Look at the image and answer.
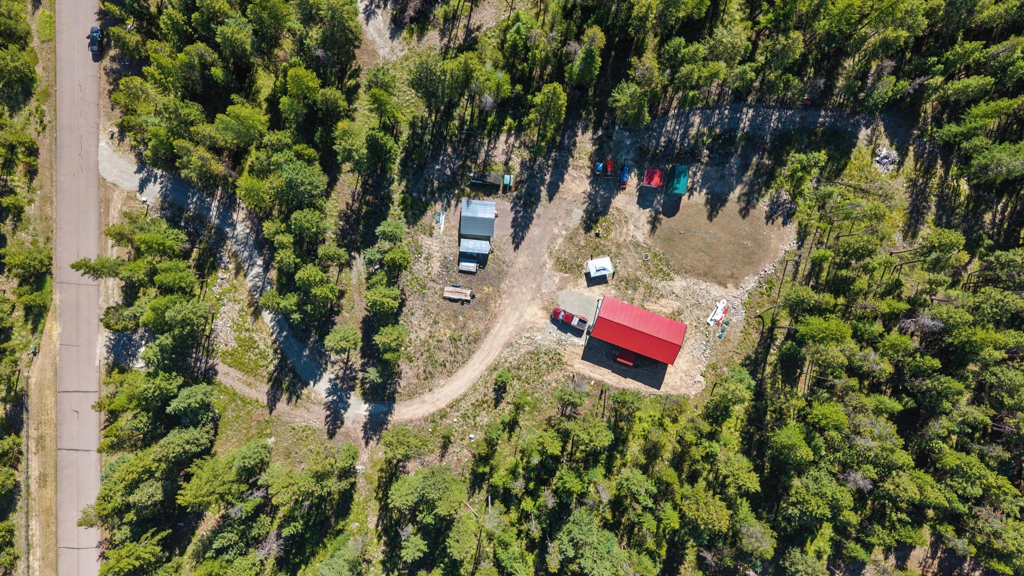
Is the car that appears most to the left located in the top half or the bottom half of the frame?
top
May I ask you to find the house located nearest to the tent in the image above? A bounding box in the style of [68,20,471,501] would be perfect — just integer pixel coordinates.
[590,295,687,364]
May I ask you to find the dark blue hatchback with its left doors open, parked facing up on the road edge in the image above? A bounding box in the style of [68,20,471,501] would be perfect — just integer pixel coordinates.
[84,27,105,54]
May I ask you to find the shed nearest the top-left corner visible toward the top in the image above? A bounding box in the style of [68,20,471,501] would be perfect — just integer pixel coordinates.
[461,201,496,236]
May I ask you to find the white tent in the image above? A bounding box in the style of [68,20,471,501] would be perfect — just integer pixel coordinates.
[587,257,613,277]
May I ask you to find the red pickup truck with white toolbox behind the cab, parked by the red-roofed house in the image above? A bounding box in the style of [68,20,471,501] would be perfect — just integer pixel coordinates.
[549,307,589,333]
